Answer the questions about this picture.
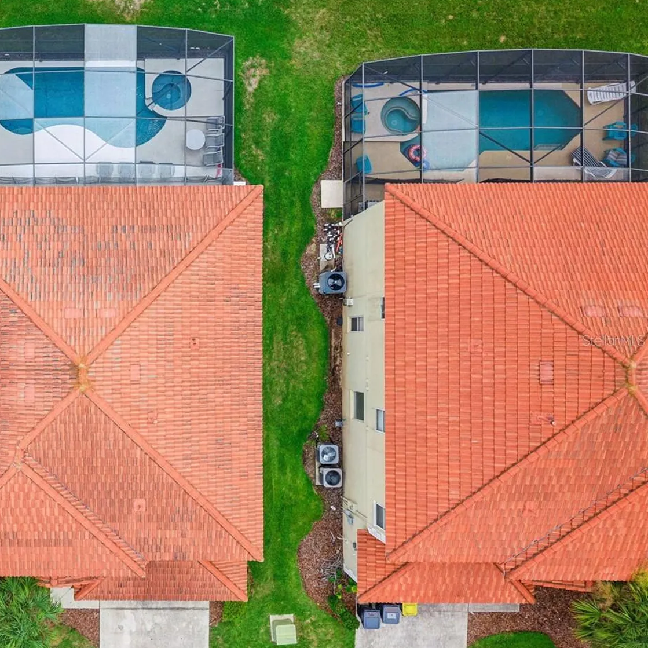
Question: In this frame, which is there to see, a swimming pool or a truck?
swimming pool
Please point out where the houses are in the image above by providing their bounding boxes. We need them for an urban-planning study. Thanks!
[341,179,648,606]
[0,182,267,605]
